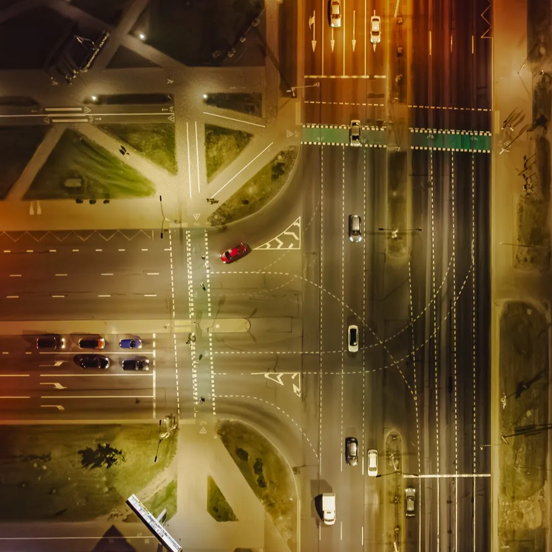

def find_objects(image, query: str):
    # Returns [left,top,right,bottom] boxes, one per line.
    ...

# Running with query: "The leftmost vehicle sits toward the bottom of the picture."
[35,336,65,349]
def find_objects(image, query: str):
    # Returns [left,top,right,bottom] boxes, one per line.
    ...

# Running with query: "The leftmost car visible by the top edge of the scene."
[327,0,341,26]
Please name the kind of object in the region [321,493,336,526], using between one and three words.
vehicle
